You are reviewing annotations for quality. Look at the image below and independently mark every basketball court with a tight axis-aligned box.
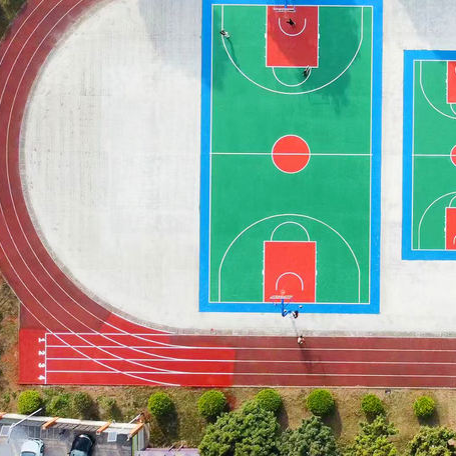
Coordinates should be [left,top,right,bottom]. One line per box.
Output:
[402,50,456,261]
[200,0,383,314]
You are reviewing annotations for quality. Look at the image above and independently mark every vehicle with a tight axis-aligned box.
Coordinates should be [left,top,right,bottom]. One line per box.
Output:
[18,435,47,456]
[69,432,98,456]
